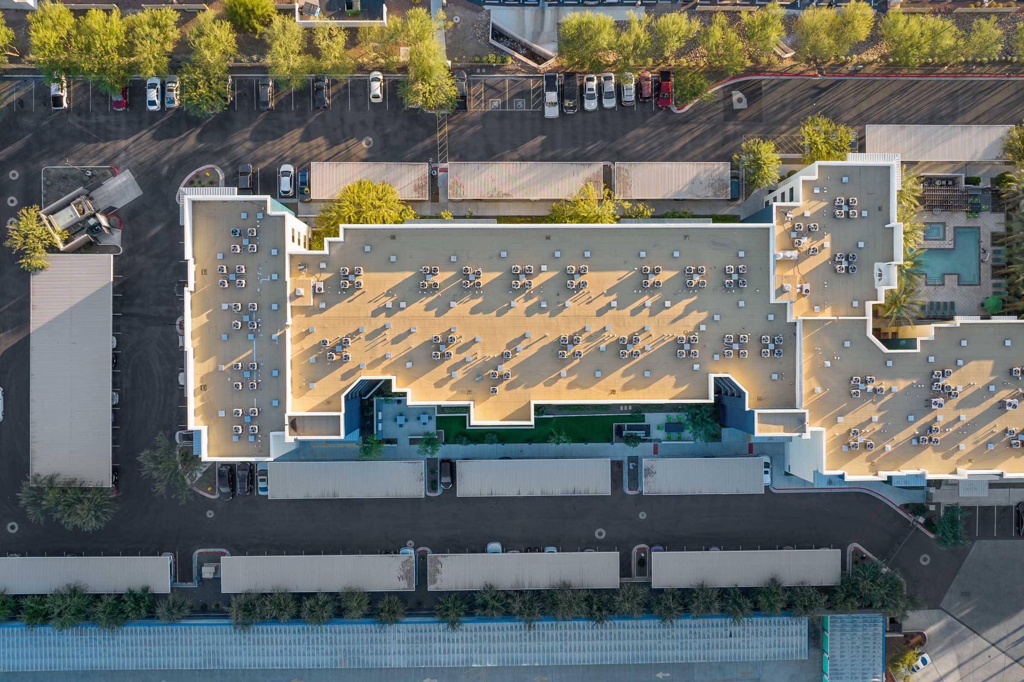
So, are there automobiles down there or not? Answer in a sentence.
Yes, an automobile can be made out from above.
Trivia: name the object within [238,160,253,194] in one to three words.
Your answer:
vehicle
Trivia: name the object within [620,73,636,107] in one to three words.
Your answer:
car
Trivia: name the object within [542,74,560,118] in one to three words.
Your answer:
vehicle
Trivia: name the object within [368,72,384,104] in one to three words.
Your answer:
car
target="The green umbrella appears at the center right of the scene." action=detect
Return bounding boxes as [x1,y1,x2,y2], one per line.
[982,296,1001,313]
